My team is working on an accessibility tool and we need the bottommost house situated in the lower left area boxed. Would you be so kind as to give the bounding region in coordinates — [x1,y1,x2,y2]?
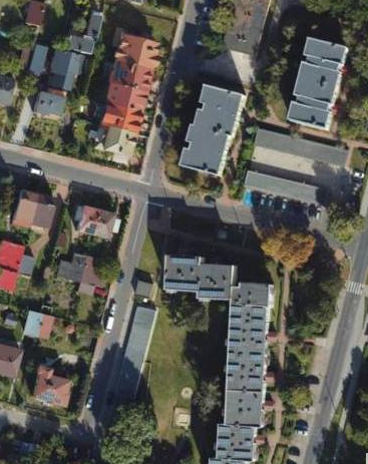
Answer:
[34,370,73,408]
